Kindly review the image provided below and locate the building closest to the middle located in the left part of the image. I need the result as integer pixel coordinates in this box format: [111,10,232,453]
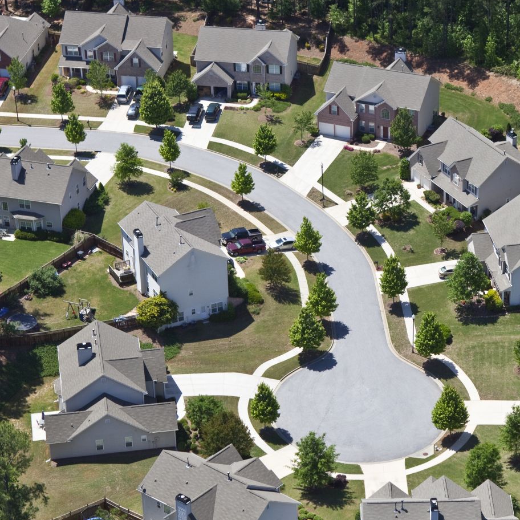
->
[103,199,227,331]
